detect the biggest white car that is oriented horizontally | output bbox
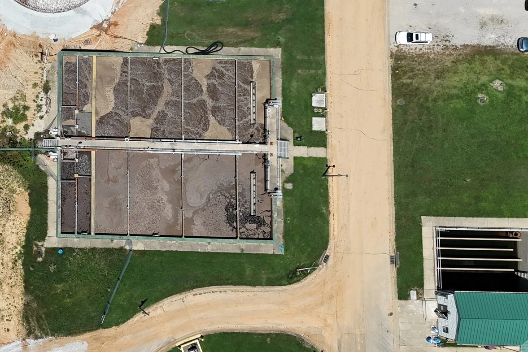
[397,27,436,45]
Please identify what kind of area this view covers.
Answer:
industrial area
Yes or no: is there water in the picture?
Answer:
Yes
